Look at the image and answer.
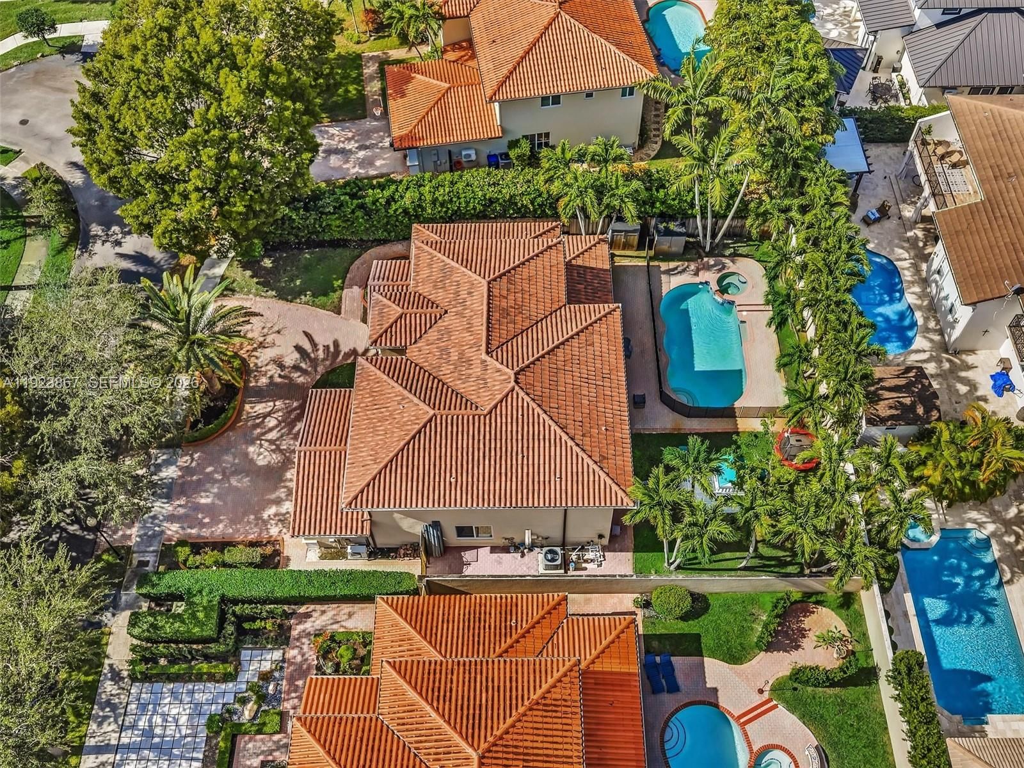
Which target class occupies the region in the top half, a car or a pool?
pool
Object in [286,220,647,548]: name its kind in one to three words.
house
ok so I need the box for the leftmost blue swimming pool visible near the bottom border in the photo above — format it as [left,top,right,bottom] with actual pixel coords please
[656,698,759,768]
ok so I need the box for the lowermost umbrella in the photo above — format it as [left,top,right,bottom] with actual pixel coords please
[987,375,1014,400]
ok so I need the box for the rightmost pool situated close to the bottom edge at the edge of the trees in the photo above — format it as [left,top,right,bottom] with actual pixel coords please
[896,521,1024,733]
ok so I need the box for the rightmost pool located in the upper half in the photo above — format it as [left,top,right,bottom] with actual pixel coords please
[844,242,923,358]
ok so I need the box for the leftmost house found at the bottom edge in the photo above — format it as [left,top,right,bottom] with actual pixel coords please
[282,593,648,768]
